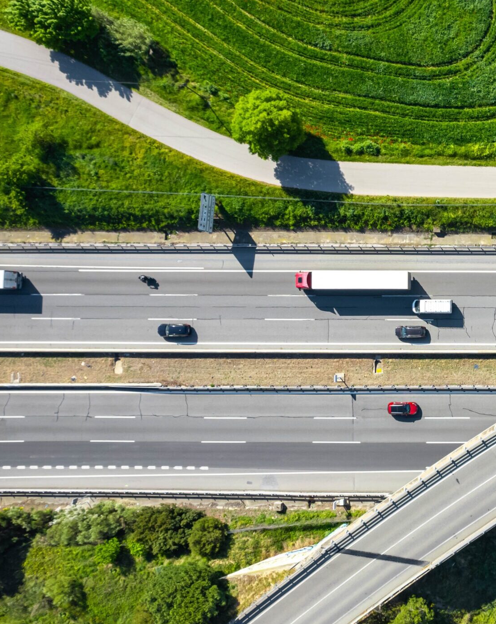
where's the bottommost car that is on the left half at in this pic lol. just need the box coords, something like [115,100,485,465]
[159,323,191,337]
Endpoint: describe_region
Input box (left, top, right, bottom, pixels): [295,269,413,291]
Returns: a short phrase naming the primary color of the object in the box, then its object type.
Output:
white truck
